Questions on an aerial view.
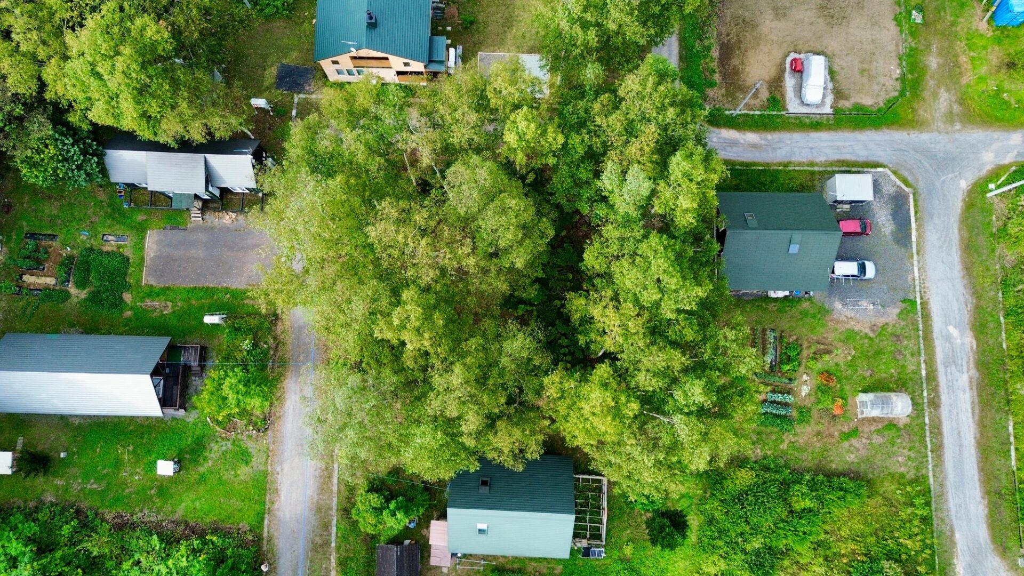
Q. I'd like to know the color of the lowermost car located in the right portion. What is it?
white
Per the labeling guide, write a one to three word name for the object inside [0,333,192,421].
house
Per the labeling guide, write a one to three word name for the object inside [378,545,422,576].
shed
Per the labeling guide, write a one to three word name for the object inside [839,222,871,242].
car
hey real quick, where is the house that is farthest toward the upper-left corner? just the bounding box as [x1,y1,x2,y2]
[104,134,267,223]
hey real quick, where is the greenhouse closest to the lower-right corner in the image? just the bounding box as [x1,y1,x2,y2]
[856,395,916,420]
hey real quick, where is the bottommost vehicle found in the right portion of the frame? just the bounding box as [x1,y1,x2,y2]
[829,261,874,283]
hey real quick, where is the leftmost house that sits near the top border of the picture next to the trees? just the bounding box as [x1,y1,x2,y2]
[315,0,445,94]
